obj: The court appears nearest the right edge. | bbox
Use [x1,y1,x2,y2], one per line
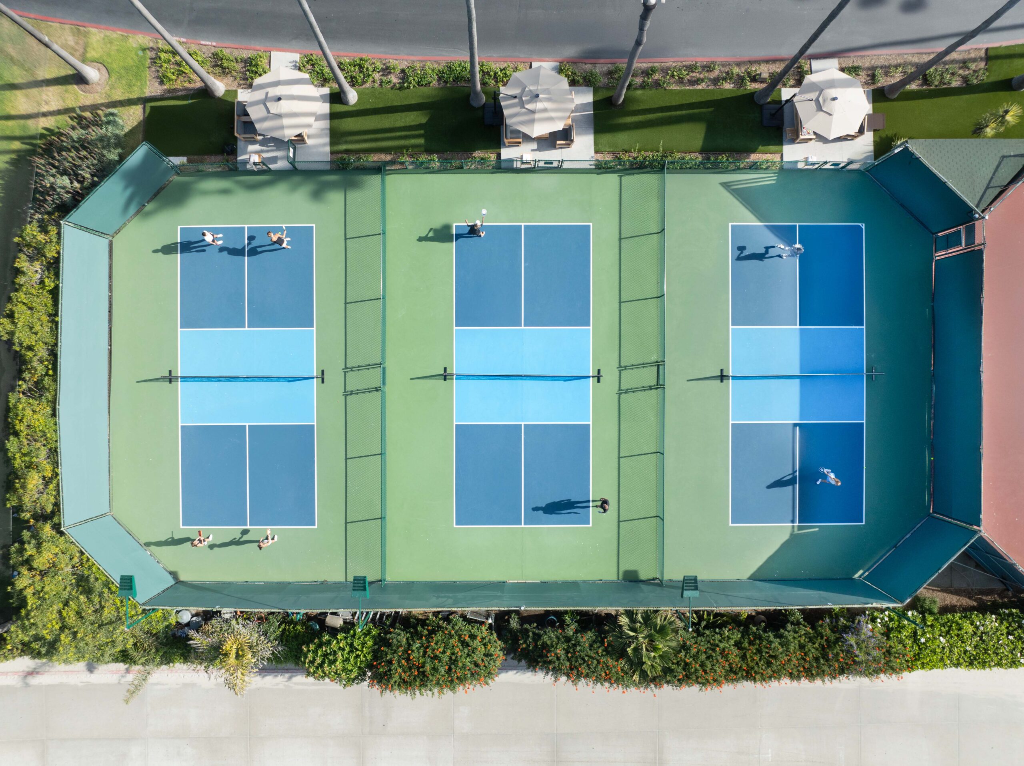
[932,172,1024,579]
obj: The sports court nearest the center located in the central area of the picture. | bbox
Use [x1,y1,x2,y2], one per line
[386,169,660,581]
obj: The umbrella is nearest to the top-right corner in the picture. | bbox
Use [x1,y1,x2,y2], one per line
[765,64,871,143]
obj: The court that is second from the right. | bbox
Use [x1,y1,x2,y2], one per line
[658,169,933,581]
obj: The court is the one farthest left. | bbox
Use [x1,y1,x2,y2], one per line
[111,169,386,582]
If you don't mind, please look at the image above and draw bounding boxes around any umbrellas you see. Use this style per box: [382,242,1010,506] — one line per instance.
[485,61,576,140]
[765,64,871,143]
[238,61,321,141]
